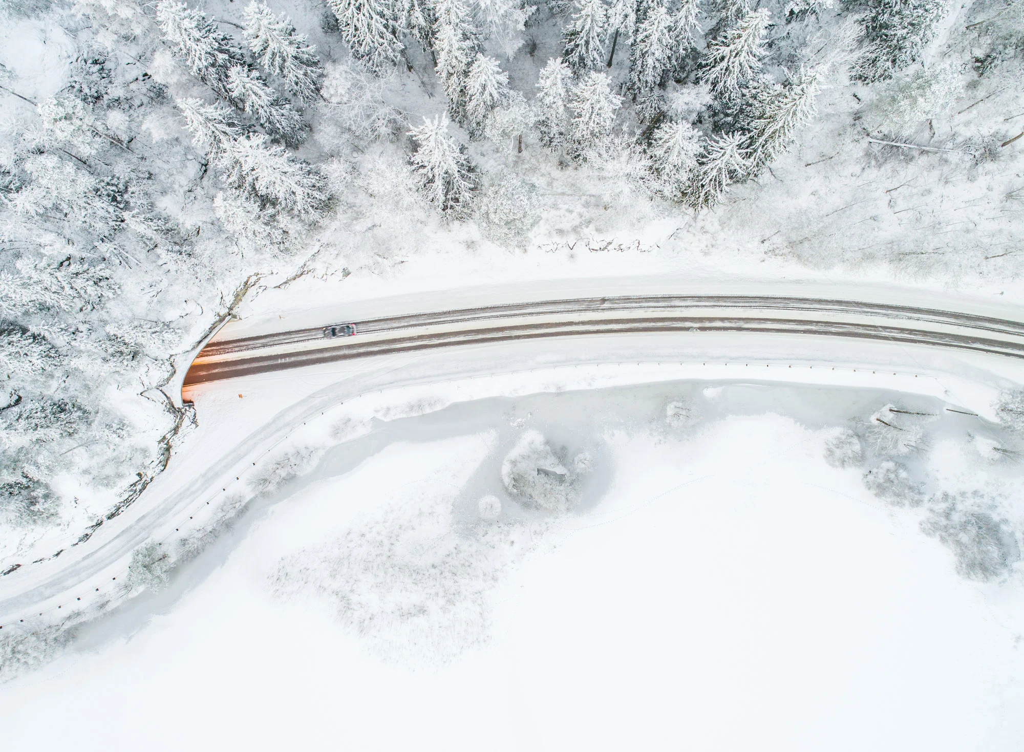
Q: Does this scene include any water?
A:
Yes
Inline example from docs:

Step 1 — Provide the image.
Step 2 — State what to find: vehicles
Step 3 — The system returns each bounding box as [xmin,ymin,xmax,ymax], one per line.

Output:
[323,323,358,340]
